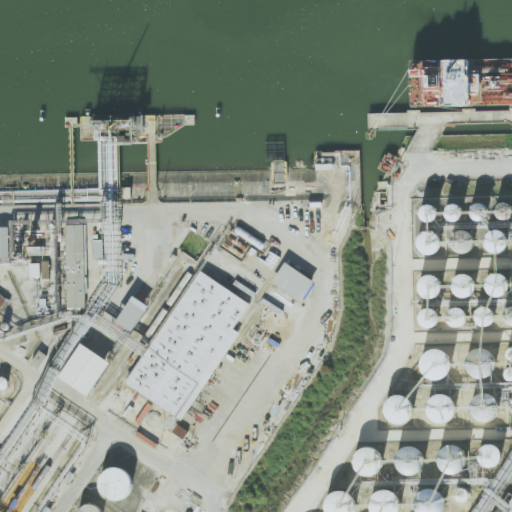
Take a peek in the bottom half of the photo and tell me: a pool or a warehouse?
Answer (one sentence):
You can see a warehouse in the bottom half of the photo.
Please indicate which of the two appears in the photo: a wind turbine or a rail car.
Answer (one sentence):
This aerial view contains a rail car.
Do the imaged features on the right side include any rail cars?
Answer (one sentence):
No, the scene shows no rail car on the right side.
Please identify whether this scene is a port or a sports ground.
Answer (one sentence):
It's a port.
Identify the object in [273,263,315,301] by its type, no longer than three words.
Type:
building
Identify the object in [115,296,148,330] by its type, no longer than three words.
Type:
shed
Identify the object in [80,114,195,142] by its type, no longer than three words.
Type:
pier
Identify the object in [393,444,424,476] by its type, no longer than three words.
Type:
storage tank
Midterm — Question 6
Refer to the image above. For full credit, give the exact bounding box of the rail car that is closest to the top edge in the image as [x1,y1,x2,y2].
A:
[165,272,193,306]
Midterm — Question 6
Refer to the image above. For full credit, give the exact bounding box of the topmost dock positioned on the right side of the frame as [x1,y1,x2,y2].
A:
[368,110,512,154]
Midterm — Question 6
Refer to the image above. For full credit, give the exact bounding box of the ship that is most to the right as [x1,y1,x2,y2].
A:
[408,60,512,108]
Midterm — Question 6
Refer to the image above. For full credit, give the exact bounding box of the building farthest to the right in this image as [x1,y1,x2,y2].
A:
[370,182,392,209]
